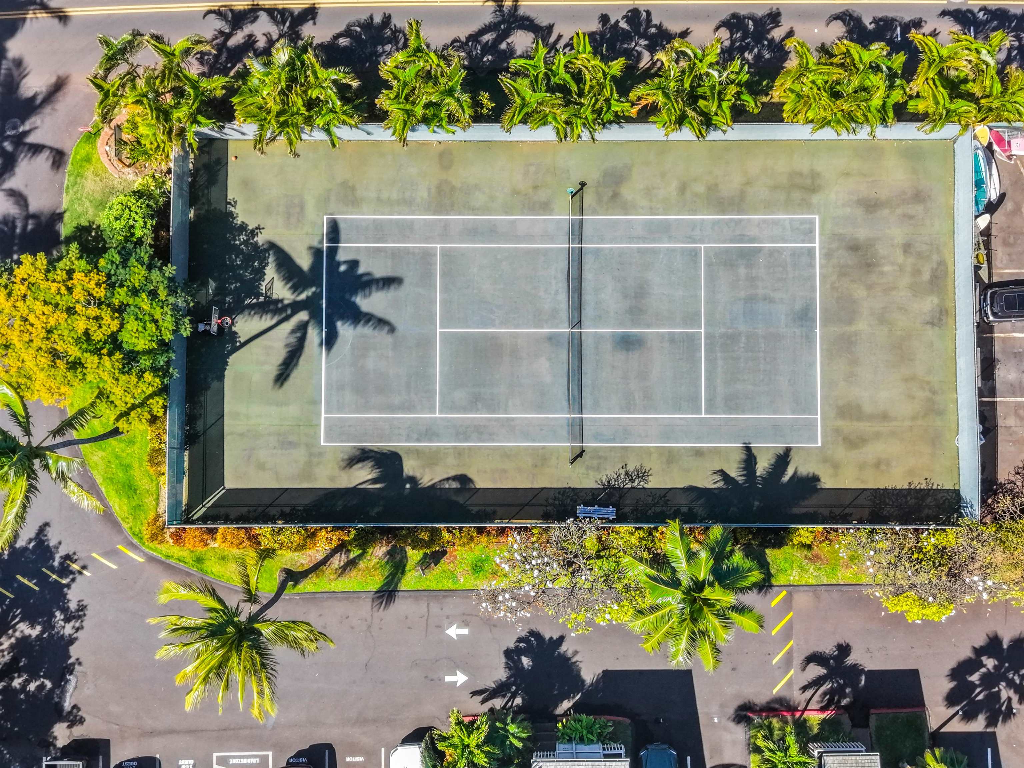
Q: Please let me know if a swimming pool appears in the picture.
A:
No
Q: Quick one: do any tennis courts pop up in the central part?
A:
Yes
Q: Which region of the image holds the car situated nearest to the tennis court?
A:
right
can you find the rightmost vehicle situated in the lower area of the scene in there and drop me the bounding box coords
[638,742,677,768]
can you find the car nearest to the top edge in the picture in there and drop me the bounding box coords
[979,281,1024,324]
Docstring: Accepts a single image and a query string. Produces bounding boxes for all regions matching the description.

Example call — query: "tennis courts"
[185,140,962,521]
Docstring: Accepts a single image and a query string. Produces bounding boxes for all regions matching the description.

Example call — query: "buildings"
[813,742,883,768]
[530,742,631,768]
